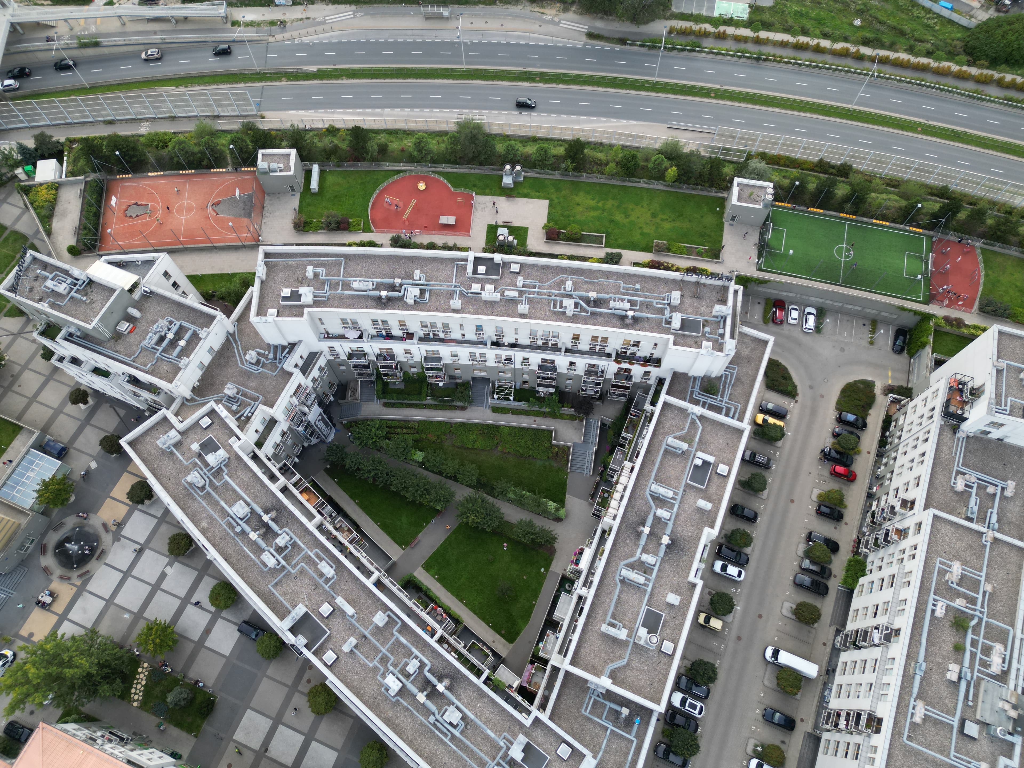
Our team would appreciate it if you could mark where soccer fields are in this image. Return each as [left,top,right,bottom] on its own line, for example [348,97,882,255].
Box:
[757,207,932,304]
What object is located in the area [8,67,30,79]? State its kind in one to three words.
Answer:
vehicle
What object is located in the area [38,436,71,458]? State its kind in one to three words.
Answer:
truck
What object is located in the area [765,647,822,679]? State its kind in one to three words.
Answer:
van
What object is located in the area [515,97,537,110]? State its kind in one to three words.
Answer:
vehicle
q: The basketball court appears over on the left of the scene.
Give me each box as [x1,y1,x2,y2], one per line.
[98,171,266,251]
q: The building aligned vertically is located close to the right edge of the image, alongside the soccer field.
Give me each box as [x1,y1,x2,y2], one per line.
[816,324,1024,768]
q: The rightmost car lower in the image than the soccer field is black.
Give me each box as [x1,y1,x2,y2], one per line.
[892,328,907,355]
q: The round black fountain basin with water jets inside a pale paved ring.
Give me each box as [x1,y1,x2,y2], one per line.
[52,524,100,571]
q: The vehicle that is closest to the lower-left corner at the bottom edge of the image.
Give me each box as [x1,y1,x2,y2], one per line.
[2,720,33,743]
